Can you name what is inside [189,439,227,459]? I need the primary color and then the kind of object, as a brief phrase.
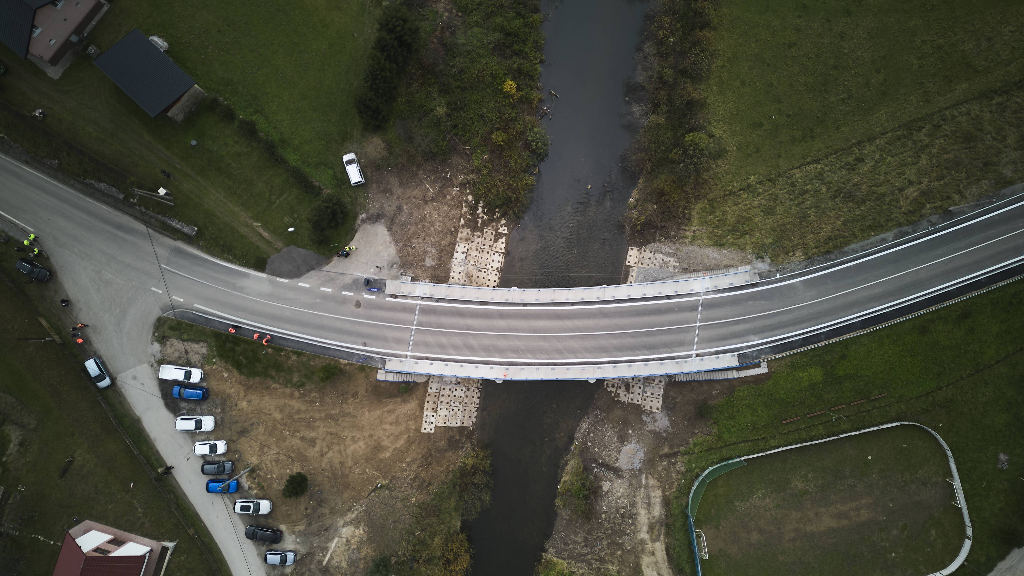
white car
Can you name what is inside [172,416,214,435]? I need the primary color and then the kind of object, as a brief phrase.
white car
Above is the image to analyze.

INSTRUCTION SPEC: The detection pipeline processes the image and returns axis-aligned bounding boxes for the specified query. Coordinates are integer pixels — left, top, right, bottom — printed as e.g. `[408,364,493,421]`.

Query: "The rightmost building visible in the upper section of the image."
[93,28,203,119]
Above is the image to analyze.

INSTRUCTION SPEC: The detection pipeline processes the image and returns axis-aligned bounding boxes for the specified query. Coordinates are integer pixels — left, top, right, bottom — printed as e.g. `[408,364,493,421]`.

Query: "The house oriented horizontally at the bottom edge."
[53,530,151,576]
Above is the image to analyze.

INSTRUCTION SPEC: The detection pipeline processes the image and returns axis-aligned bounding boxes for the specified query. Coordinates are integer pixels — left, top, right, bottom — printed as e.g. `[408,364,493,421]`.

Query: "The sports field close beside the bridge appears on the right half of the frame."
[686,421,979,576]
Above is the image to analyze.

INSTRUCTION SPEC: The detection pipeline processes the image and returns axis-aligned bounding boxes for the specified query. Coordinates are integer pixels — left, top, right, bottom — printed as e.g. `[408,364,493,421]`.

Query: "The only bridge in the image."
[383,269,766,384]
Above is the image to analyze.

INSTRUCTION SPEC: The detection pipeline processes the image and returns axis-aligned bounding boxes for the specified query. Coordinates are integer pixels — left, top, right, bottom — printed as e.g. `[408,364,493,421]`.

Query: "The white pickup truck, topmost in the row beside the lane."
[153,364,203,386]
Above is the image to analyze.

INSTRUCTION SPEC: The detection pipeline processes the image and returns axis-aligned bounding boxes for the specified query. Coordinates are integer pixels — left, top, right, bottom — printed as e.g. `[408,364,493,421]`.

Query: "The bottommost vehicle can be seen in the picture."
[261,550,296,570]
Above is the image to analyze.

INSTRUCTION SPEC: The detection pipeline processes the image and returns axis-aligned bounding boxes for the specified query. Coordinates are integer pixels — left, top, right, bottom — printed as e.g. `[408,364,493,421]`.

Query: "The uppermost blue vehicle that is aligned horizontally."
[169,384,209,403]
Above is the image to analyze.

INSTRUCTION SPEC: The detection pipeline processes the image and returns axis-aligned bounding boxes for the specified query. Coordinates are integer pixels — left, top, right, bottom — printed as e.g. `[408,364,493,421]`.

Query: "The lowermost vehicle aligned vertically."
[341,149,364,189]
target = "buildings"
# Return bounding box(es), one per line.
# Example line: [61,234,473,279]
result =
[53,530,151,576]
[93,28,203,119]
[0,0,107,67]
